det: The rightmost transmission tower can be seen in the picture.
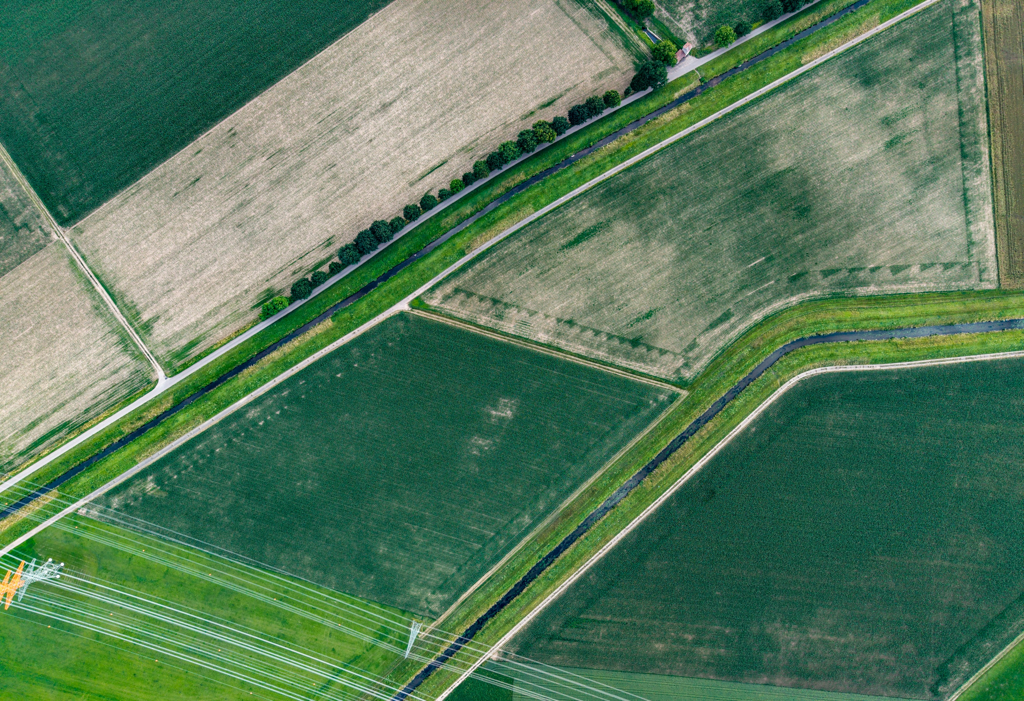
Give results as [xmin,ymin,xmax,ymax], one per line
[401,618,424,663]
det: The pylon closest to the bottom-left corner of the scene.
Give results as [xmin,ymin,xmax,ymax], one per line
[0,559,64,614]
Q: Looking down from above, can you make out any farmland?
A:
Yes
